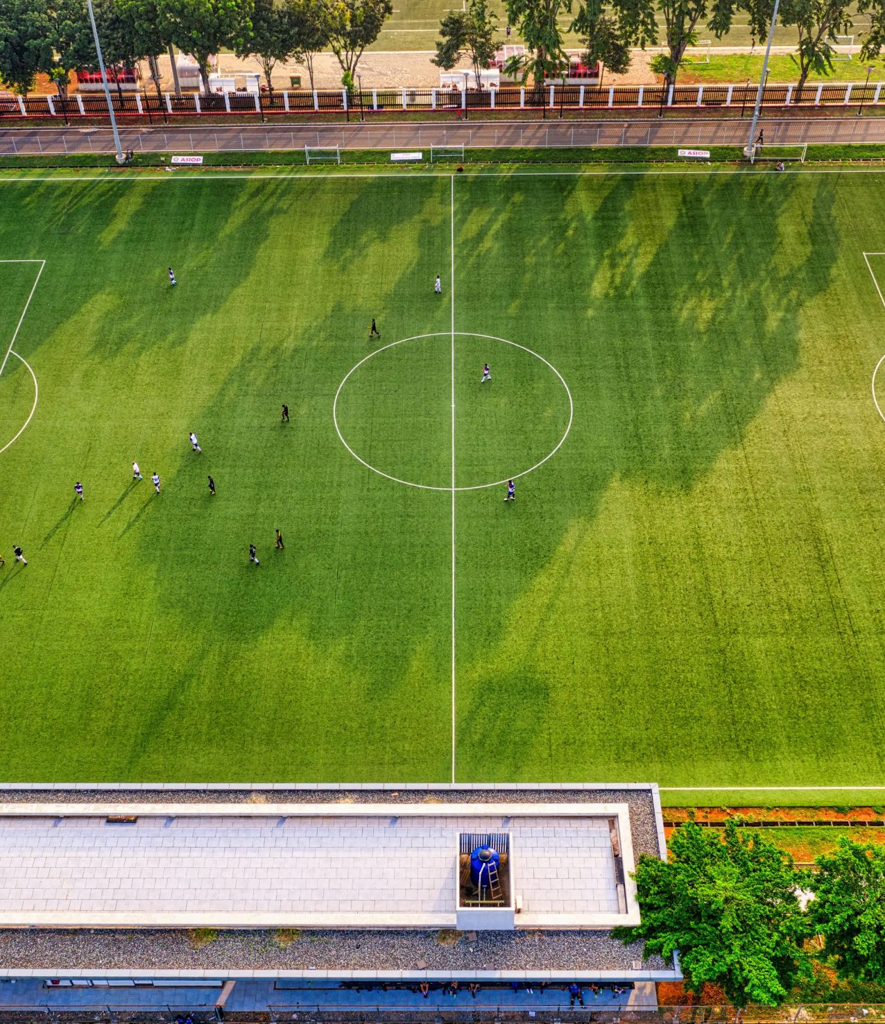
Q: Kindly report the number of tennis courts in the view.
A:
0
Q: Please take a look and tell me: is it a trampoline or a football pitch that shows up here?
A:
football pitch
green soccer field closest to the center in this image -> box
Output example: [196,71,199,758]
[0,164,885,807]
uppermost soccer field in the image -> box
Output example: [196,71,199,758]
[2,0,881,55]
